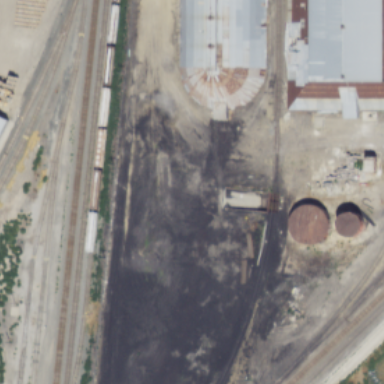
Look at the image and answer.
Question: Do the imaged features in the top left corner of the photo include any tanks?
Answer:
No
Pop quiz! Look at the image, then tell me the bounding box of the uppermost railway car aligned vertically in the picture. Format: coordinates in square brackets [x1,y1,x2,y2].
[108,3,121,44]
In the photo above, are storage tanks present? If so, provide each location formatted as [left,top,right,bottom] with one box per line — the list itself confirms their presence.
[336,210,376,238]
[288,204,332,244]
